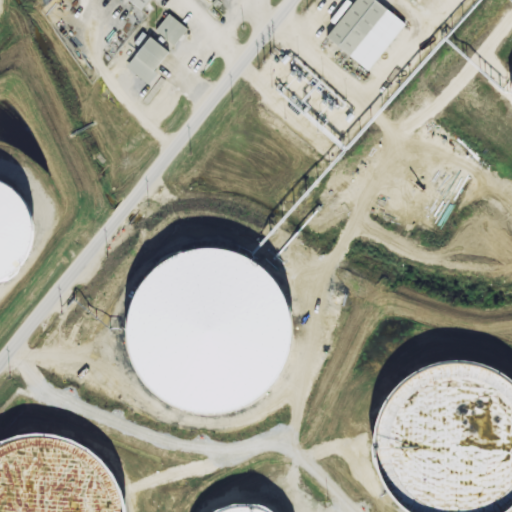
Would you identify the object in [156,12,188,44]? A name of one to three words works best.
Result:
building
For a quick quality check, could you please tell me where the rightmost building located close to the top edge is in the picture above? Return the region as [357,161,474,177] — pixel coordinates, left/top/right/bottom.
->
[326,0,406,70]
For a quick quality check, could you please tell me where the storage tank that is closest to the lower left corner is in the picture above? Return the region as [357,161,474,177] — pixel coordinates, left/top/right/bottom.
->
[0,432,125,512]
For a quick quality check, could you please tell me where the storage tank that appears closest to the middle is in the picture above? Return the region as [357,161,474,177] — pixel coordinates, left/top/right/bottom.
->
[127,246,292,416]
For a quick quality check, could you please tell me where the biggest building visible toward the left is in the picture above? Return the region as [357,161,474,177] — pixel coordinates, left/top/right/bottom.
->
[126,35,169,79]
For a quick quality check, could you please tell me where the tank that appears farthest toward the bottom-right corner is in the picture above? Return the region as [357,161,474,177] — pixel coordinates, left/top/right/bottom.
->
[371,360,512,512]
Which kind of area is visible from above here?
industrial area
